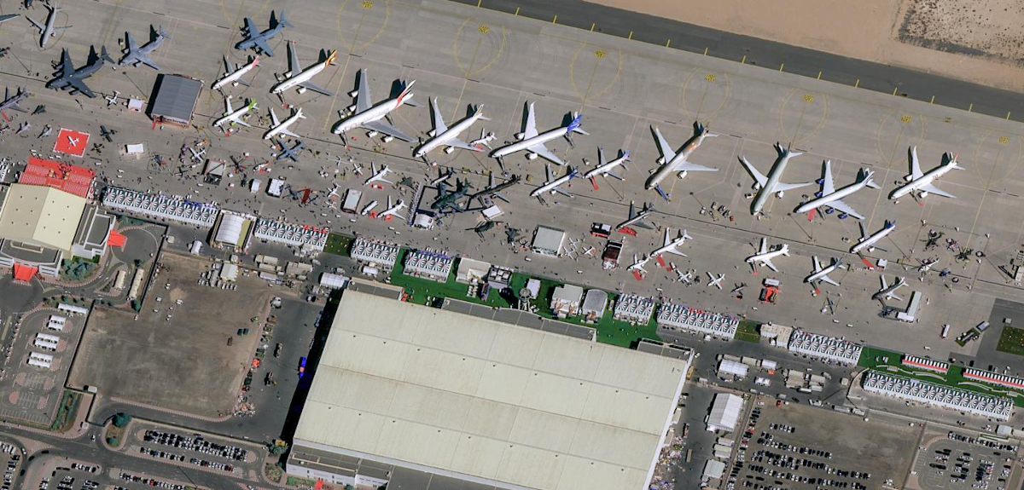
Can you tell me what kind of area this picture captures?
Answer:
airport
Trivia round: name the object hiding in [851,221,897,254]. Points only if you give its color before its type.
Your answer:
white airplane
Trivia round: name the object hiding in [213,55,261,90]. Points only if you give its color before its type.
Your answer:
white airplane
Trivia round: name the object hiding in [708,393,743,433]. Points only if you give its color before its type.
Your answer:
white tent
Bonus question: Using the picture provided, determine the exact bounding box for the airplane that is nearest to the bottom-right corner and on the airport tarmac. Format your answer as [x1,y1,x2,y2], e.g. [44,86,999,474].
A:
[873,275,908,303]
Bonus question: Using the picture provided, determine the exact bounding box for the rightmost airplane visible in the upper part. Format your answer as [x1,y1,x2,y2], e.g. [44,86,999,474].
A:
[890,147,961,199]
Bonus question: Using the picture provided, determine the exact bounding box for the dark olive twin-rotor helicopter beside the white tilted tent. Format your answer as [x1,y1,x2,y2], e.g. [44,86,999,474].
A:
[470,216,501,235]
